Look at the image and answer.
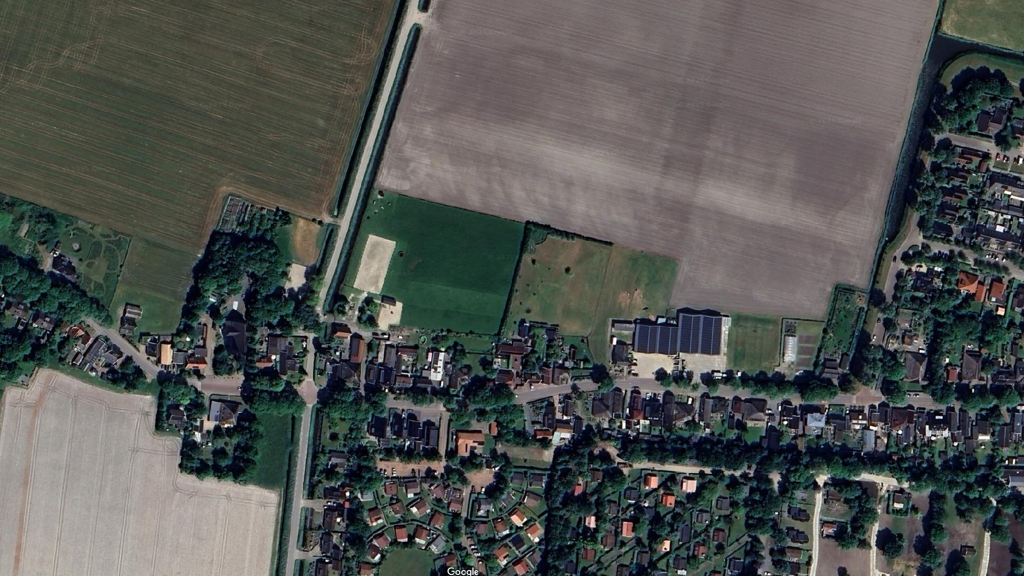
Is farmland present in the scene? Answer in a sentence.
Yes, some farmland is visible.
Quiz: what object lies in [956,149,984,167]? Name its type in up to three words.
house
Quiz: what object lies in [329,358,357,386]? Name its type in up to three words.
house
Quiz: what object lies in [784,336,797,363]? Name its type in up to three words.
greenhouse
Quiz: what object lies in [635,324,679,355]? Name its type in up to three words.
building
